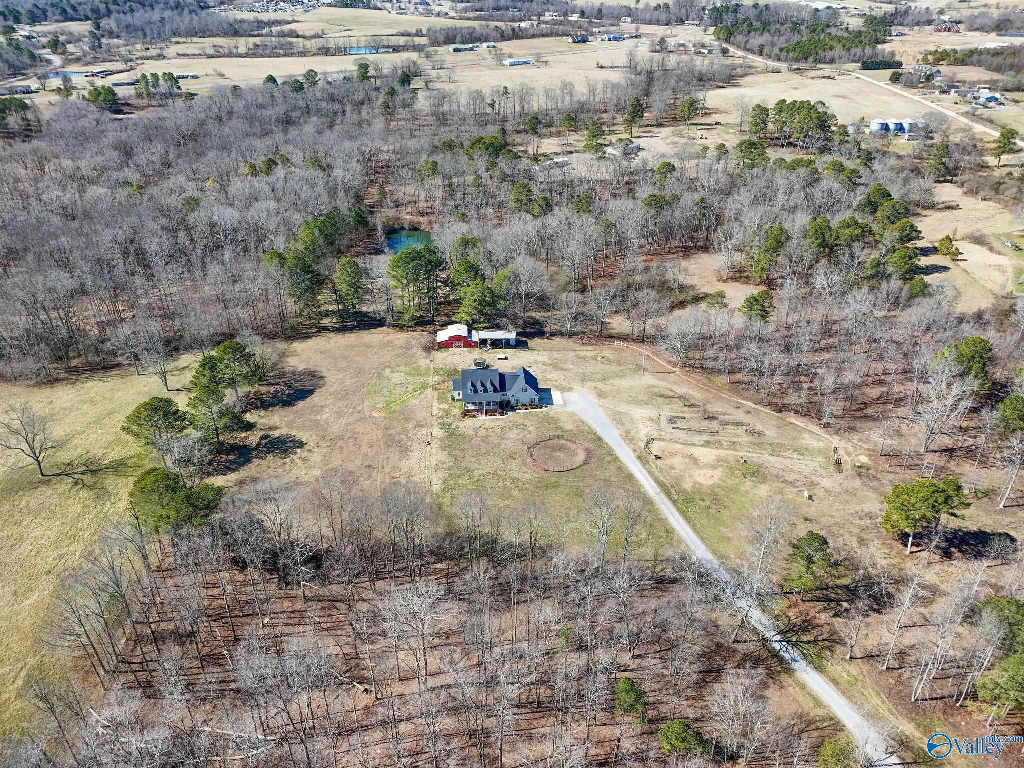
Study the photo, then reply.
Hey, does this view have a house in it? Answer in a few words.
Yes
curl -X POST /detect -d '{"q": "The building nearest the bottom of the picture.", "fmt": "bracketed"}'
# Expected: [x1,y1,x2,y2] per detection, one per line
[453,363,539,416]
